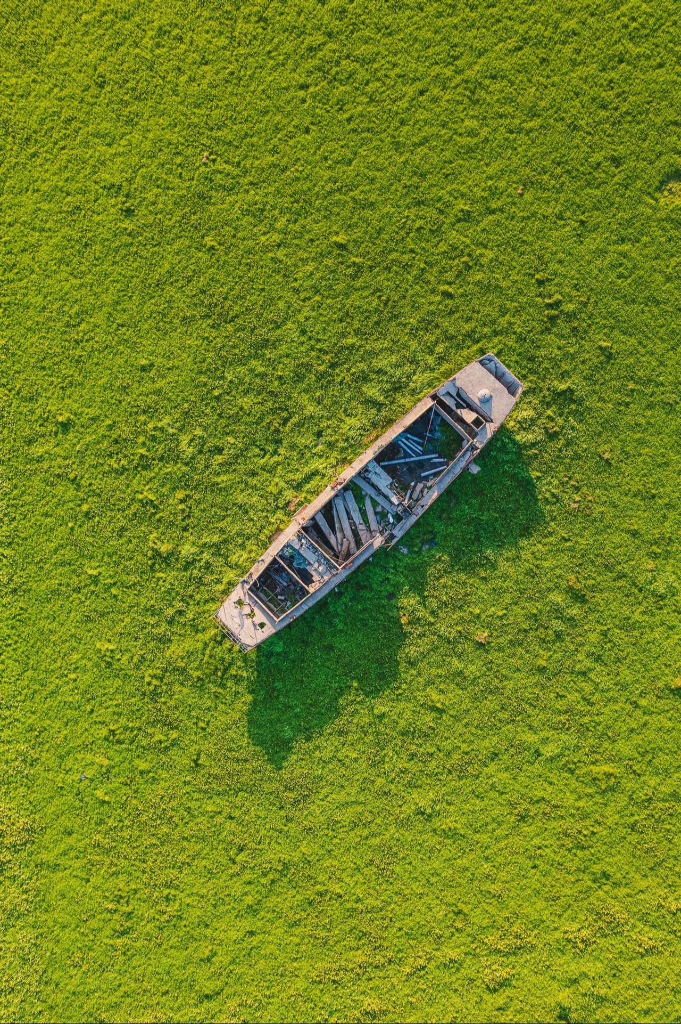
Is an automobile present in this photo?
No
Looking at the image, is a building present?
No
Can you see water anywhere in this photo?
No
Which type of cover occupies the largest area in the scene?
grass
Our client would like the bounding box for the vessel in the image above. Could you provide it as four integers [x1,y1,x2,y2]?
[213,354,523,653]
